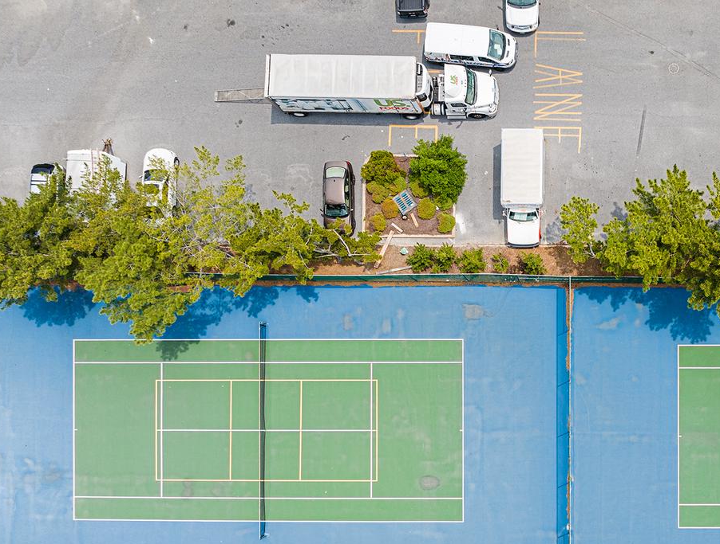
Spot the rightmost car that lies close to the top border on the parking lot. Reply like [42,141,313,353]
[501,0,543,34]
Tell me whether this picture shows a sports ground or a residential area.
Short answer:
sports ground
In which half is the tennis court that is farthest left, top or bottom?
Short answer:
bottom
